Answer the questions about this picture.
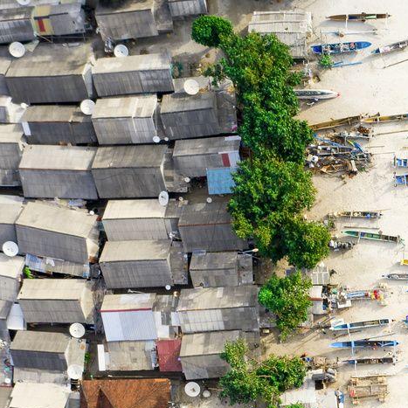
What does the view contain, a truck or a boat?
boat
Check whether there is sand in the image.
Yes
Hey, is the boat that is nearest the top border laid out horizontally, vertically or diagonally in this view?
horizontally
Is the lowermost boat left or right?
right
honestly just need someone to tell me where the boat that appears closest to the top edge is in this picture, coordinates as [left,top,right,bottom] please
[321,13,397,33]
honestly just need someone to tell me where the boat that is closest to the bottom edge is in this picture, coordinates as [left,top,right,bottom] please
[339,358,404,378]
